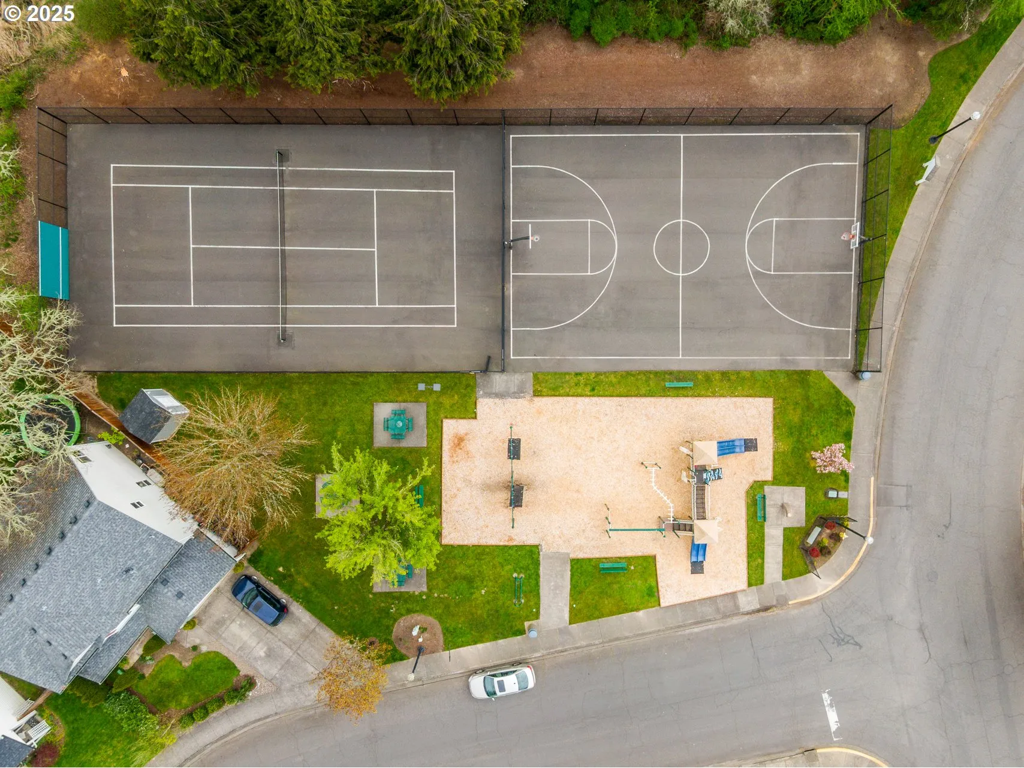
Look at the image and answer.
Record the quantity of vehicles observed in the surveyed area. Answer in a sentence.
The number of vehicles here is 2.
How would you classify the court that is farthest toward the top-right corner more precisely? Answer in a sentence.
From above, the court that is farthest toward the top-right corner can be identified as a basketball court.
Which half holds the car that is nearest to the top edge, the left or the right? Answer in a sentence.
You can find the car that is nearest to the top edge on the left side of the picture.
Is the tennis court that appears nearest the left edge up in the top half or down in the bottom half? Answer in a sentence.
Seen from above, the tennis court that appears nearest the left edge lies in the top half of the view.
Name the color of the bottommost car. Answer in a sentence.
The bottommost car is white.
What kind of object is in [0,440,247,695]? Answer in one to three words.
house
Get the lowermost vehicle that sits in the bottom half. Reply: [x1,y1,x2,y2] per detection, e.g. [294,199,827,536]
[468,661,538,702]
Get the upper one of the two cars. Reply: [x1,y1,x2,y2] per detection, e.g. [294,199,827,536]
[230,573,290,629]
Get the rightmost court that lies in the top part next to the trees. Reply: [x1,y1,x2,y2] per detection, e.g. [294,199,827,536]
[505,125,866,372]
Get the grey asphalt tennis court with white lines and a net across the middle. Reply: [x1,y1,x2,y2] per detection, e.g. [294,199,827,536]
[67,123,502,371]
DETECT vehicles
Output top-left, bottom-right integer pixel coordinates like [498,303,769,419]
[230,573,290,629]
[468,661,538,702]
